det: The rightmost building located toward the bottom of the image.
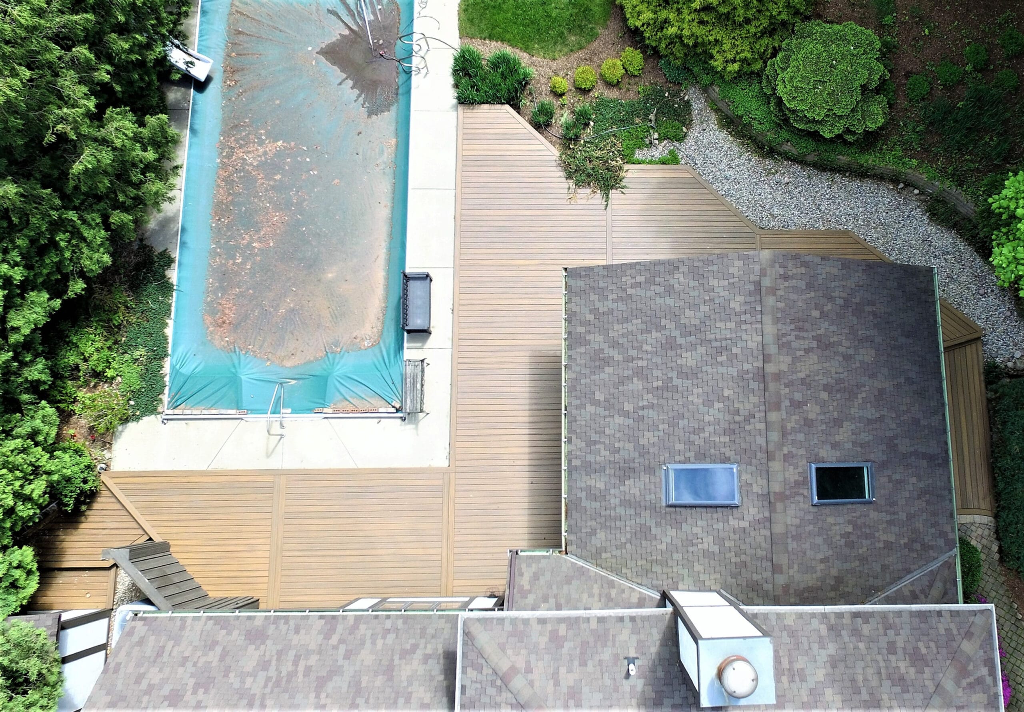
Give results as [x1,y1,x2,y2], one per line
[86,249,1007,712]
